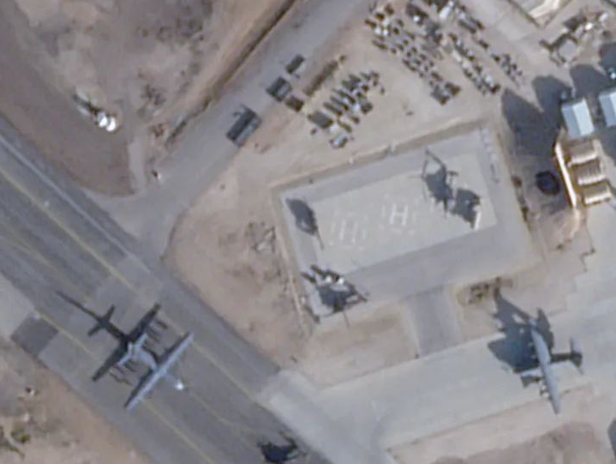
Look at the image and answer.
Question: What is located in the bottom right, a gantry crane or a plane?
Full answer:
There is a plane in the bottom right.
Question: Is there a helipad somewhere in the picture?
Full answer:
Yes, there's a helipad here.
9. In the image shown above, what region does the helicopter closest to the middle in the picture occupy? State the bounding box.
[304,209,327,255]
